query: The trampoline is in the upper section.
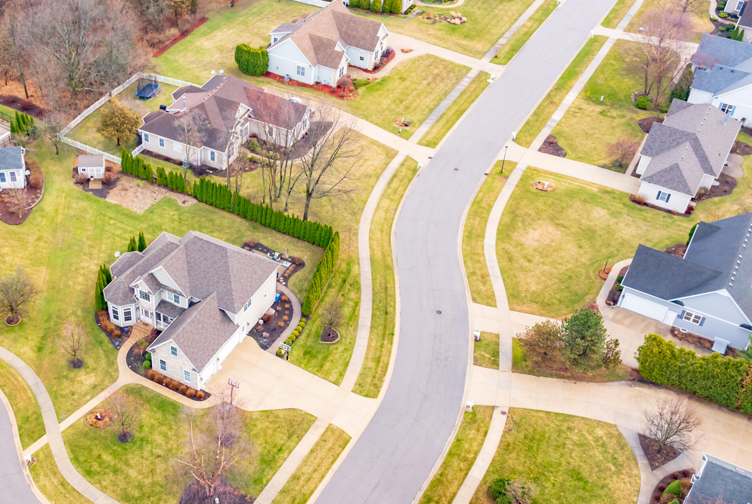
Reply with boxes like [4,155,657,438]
[134,81,161,101]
